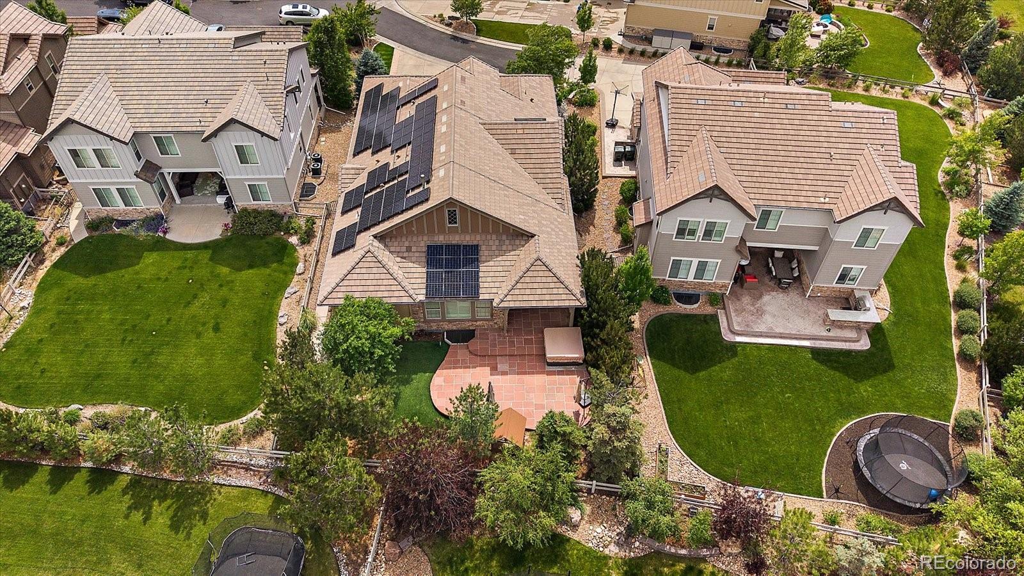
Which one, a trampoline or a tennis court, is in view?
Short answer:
trampoline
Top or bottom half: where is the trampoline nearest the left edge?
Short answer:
bottom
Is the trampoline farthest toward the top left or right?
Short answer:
right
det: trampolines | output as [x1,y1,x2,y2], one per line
[192,512,316,576]
[849,412,970,514]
